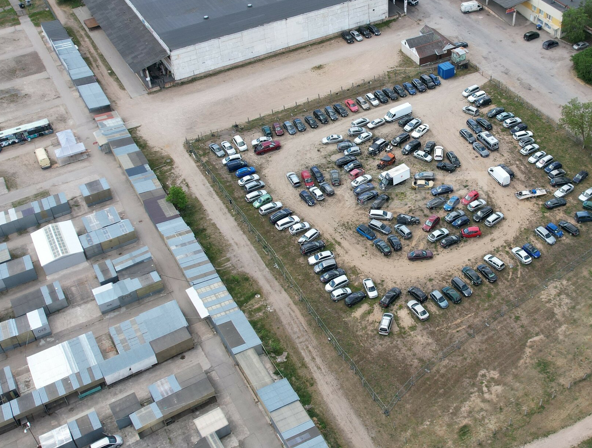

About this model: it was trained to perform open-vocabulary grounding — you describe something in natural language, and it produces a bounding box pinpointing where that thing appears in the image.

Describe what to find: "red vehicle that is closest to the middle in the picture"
[299,169,315,190]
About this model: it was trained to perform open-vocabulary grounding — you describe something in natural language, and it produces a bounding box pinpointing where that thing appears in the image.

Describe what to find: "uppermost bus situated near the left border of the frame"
[0,119,58,152]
